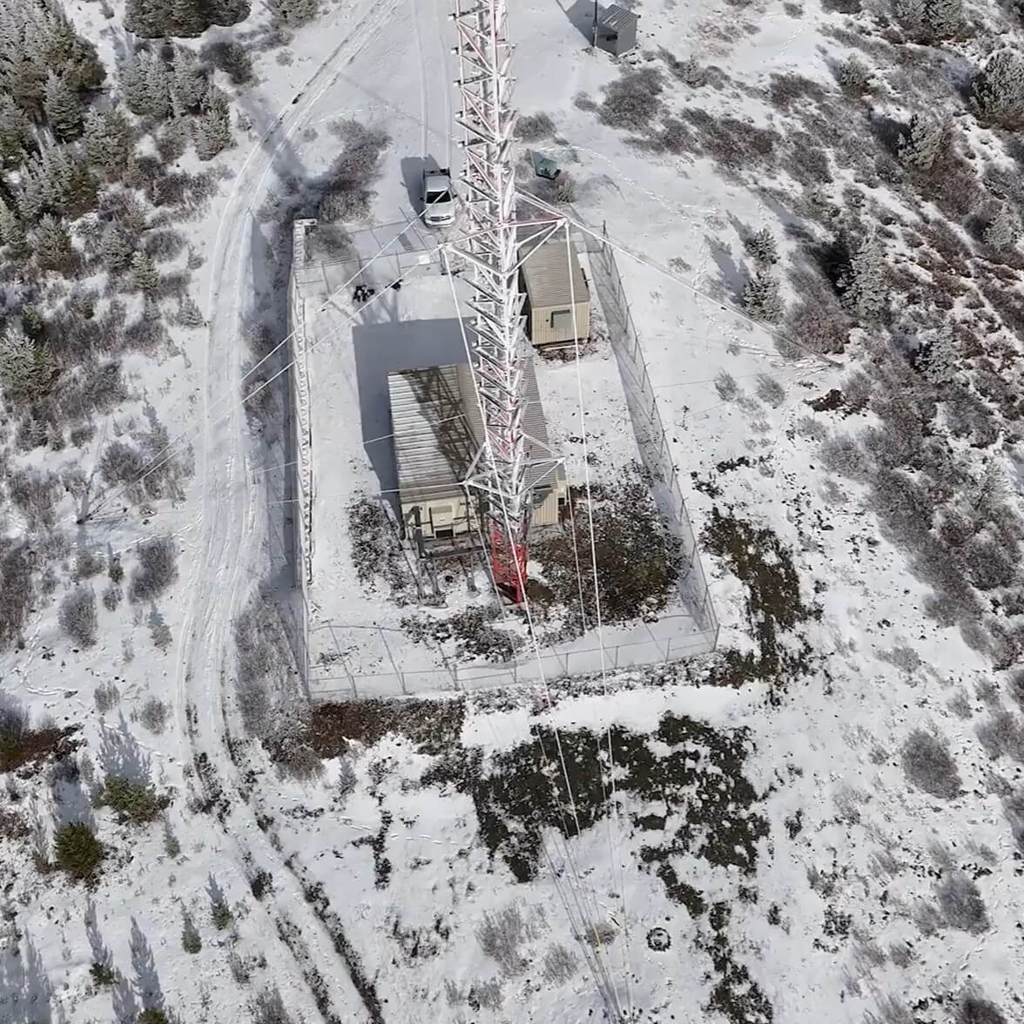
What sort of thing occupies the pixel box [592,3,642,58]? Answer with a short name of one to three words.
shed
